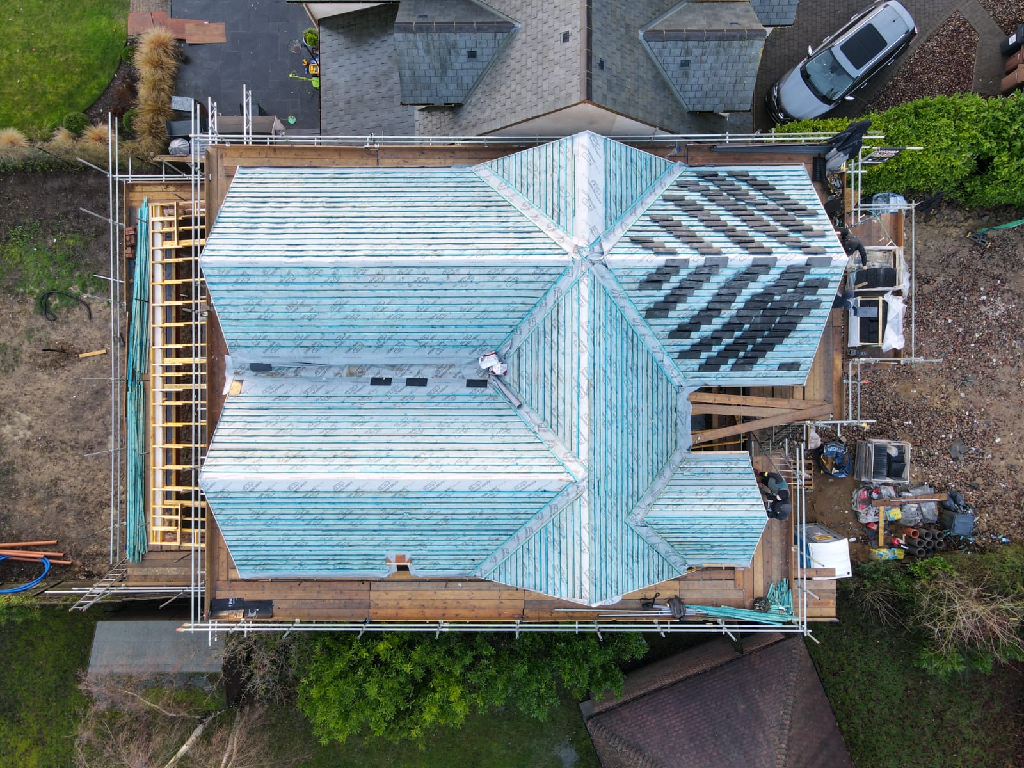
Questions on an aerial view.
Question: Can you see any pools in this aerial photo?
No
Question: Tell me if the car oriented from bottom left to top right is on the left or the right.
right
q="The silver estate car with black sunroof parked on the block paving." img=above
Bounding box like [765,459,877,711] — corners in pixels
[759,0,921,131]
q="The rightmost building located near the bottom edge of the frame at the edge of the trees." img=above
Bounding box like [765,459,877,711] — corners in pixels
[584,624,857,768]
